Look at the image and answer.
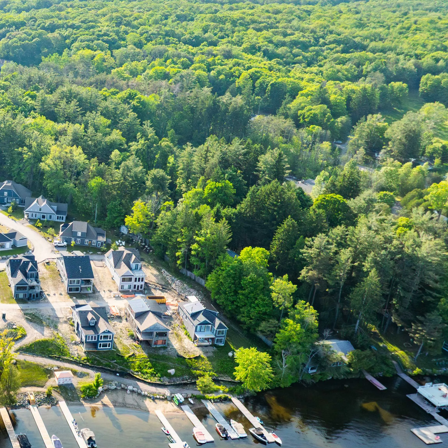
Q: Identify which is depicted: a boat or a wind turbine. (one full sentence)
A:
It is a boat that can be seen here.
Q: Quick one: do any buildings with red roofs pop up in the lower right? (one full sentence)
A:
No, looking in the lower right, there is no building with a red roof.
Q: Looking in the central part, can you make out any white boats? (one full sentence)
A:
No, in the central part there is no white boat.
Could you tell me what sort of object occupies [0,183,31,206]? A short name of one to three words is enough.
house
